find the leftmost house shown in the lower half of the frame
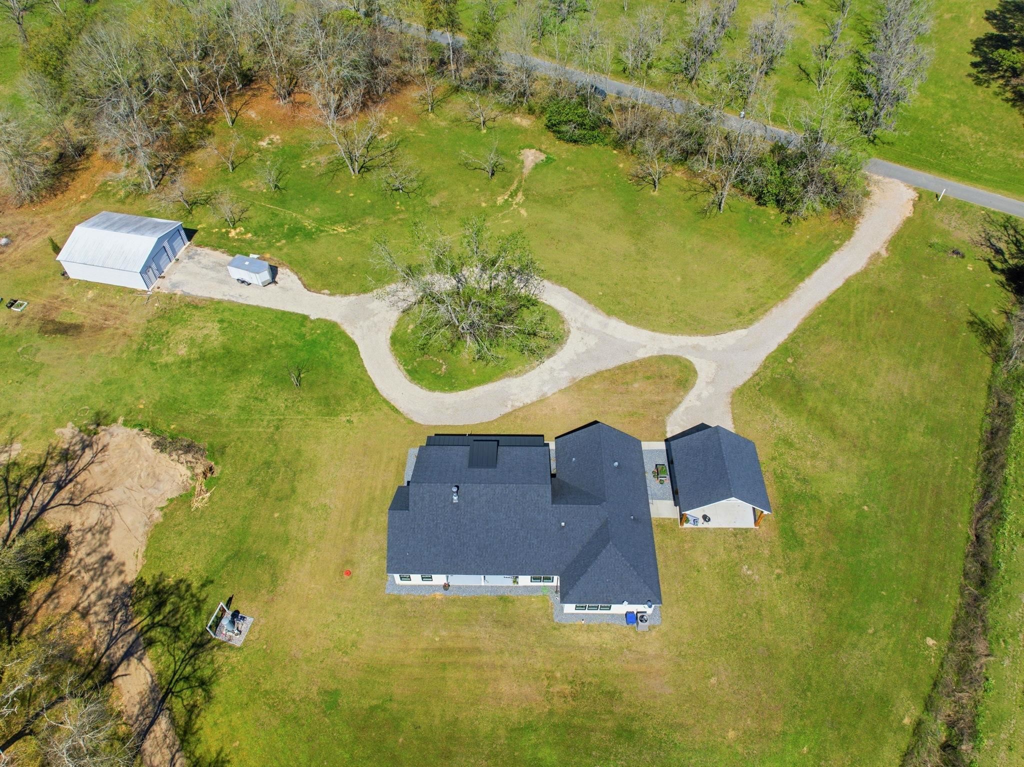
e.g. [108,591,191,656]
[387,424,662,614]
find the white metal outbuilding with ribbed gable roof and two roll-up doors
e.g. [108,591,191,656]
[58,213,190,292]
